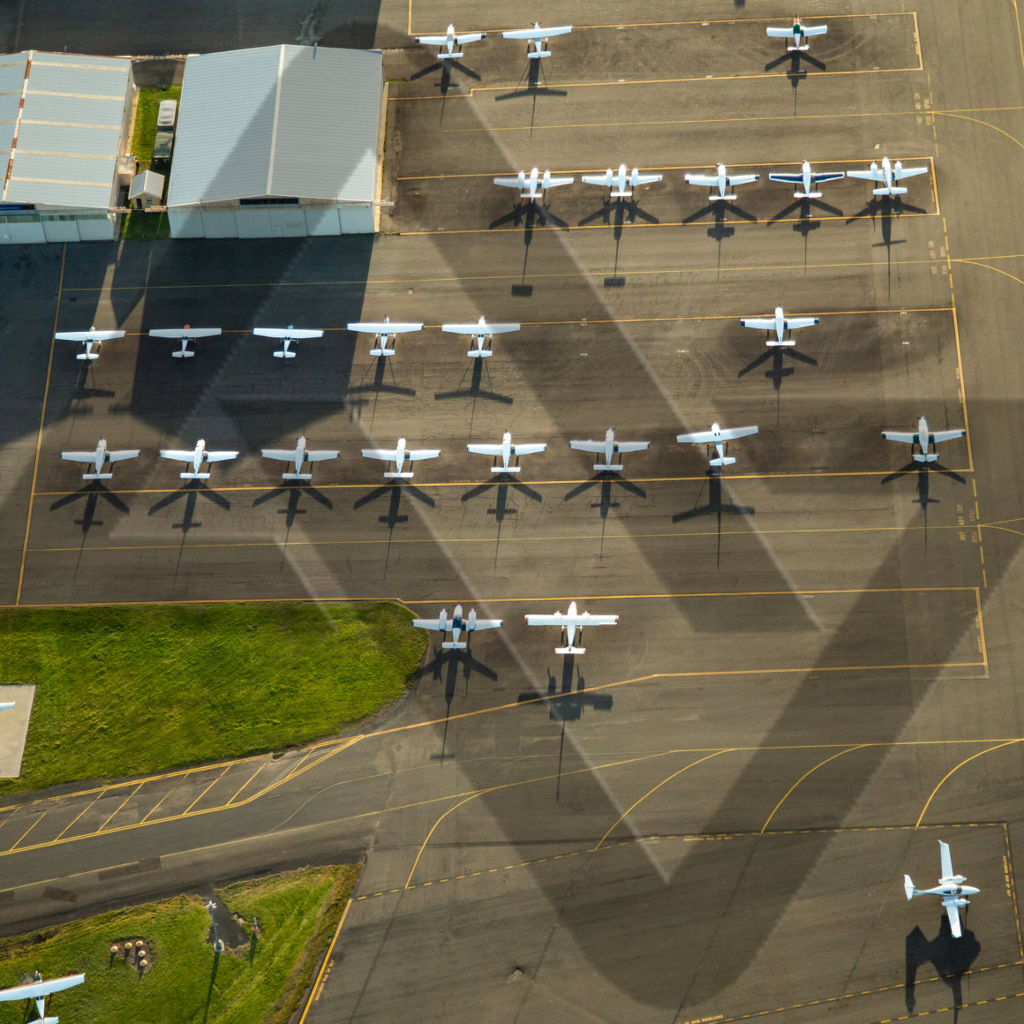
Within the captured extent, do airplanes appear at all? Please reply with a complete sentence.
Yes, the image includes an airplane.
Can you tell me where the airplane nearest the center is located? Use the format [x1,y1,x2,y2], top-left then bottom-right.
[468,428,546,473]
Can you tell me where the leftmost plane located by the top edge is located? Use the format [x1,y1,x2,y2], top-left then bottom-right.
[415,23,486,58]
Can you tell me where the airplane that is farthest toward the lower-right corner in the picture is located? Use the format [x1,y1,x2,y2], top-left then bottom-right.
[910,839,982,936]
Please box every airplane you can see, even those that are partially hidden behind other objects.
[502,24,572,56]
[468,428,546,473]
[740,303,819,345]
[570,426,649,470]
[261,434,339,478]
[685,162,760,200]
[766,18,827,48]
[412,605,502,653]
[910,839,982,936]
[442,316,520,356]
[494,167,574,205]
[0,703,15,713]
[769,160,845,197]
[347,314,423,355]
[61,434,140,479]
[361,434,440,478]
[525,601,618,654]
[415,23,486,58]
[582,164,662,202]
[160,435,239,479]
[55,325,125,361]
[882,415,966,461]
[676,422,759,465]
[847,156,928,196]
[0,969,85,1024]
[254,322,324,359]
[149,320,222,359]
